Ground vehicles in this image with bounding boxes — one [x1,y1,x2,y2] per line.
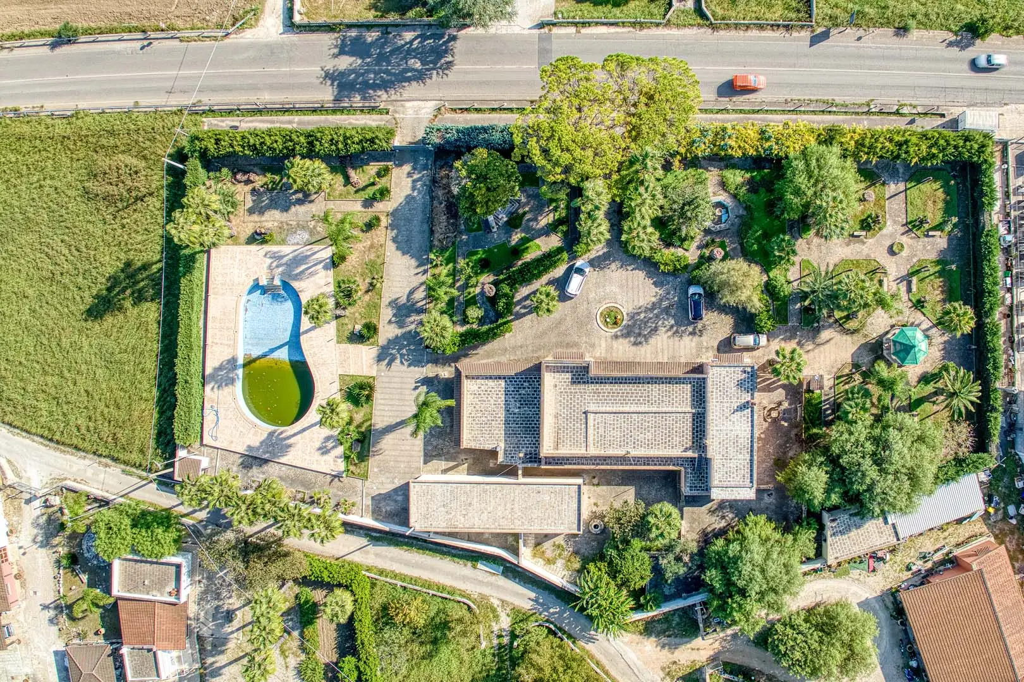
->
[969,53,1006,71]
[565,261,588,297]
[686,285,705,320]
[730,333,765,349]
[730,73,764,94]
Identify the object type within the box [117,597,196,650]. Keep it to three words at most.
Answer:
house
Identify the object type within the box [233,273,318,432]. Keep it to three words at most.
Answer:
swimming pool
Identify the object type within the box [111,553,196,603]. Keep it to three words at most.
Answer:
house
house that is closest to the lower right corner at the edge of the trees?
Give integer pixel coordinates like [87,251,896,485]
[896,539,1024,682]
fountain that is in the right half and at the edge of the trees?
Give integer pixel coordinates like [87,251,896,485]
[706,198,737,228]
